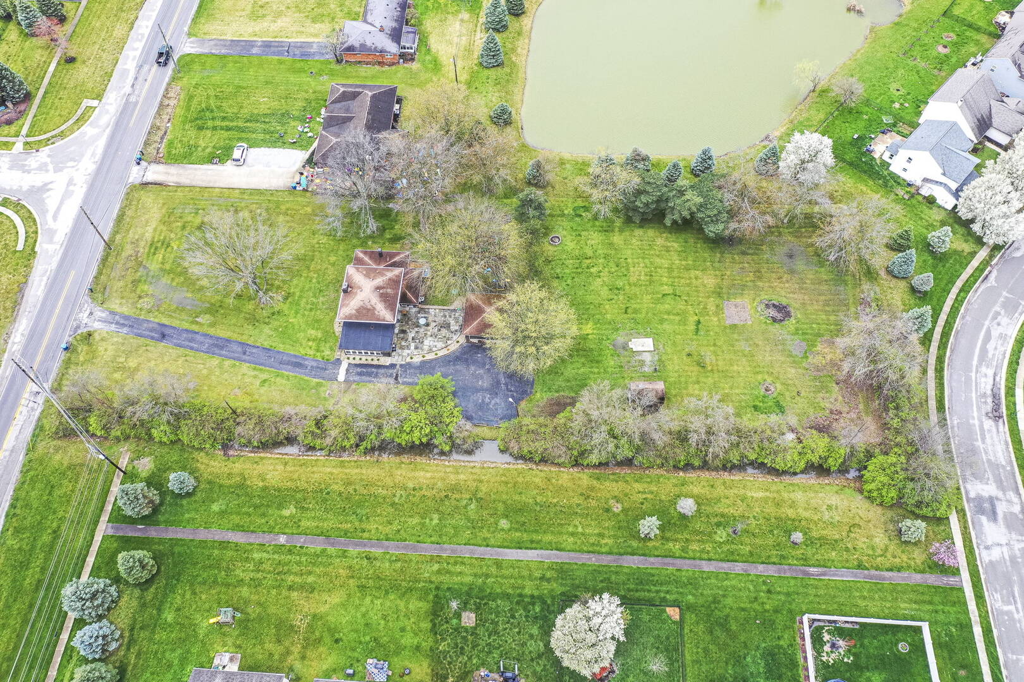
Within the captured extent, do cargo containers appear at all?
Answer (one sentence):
No, there is no cargo container in the image.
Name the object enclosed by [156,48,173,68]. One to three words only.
vehicle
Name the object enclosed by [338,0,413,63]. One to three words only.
house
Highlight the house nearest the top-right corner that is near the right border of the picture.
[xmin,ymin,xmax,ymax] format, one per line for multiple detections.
[980,16,1024,106]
